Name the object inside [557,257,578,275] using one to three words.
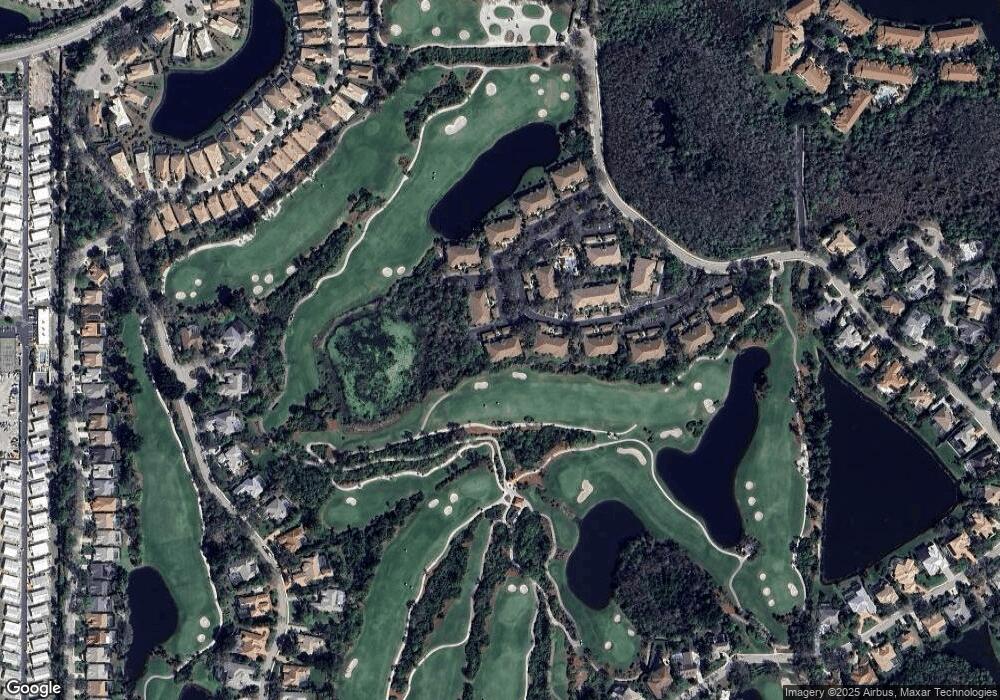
swimming pool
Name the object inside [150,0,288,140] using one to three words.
pond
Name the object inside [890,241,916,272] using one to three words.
house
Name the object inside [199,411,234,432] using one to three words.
house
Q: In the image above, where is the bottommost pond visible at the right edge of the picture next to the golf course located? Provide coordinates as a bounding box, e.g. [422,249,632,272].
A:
[819,357,960,585]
